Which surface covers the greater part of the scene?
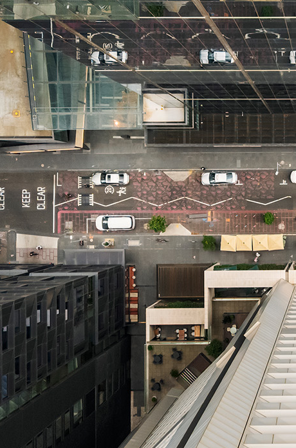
buildings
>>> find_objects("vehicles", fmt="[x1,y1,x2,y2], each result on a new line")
[91,169,129,187]
[96,214,135,232]
[201,171,238,186]
[290,169,296,184]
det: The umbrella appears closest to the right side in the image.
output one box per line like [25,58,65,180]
[268,234,283,250]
